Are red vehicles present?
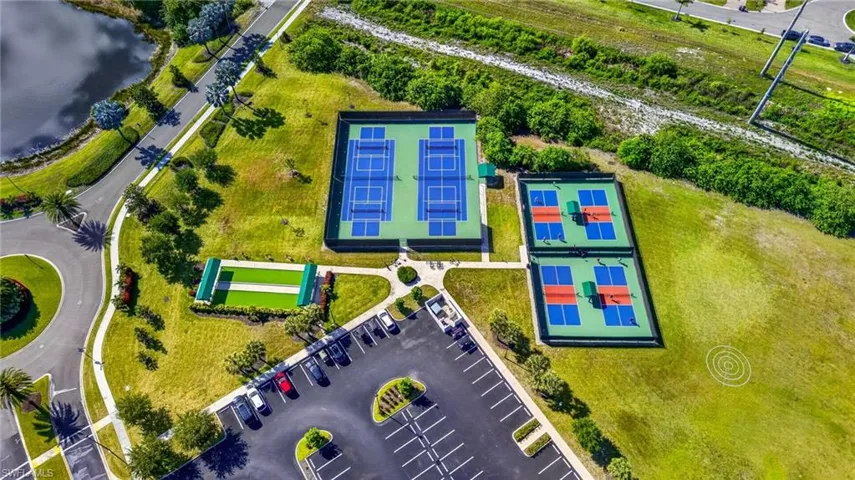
Yes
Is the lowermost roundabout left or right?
left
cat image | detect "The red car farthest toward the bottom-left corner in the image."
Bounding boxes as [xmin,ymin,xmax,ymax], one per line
[275,369,294,394]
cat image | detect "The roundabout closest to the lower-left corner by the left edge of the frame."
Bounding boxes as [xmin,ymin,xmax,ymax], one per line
[0,227,98,376]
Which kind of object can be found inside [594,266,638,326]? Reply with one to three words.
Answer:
sports court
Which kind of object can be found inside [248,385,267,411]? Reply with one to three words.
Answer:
car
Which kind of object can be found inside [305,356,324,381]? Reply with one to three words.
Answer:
car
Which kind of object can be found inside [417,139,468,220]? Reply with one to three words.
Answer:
tennis court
